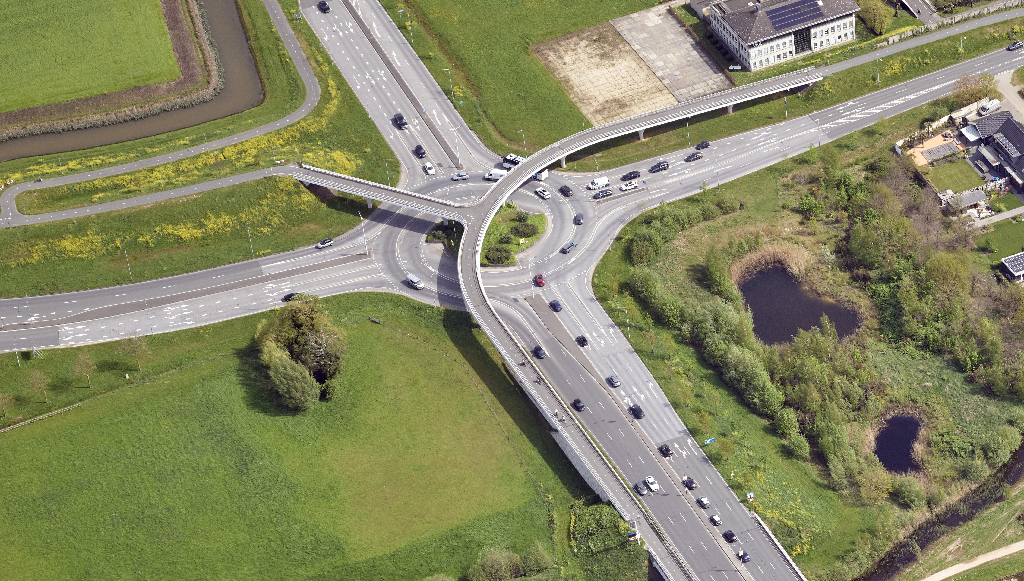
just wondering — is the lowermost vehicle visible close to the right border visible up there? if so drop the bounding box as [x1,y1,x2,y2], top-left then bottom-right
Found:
[978,96,1002,116]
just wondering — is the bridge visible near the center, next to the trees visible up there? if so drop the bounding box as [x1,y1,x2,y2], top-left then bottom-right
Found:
[297,68,810,523]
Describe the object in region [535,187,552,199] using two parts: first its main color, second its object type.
white vehicle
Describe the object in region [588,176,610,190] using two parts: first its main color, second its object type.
white vehicle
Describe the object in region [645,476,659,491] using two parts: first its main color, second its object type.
white car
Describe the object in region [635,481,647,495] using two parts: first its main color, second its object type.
gray vehicle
